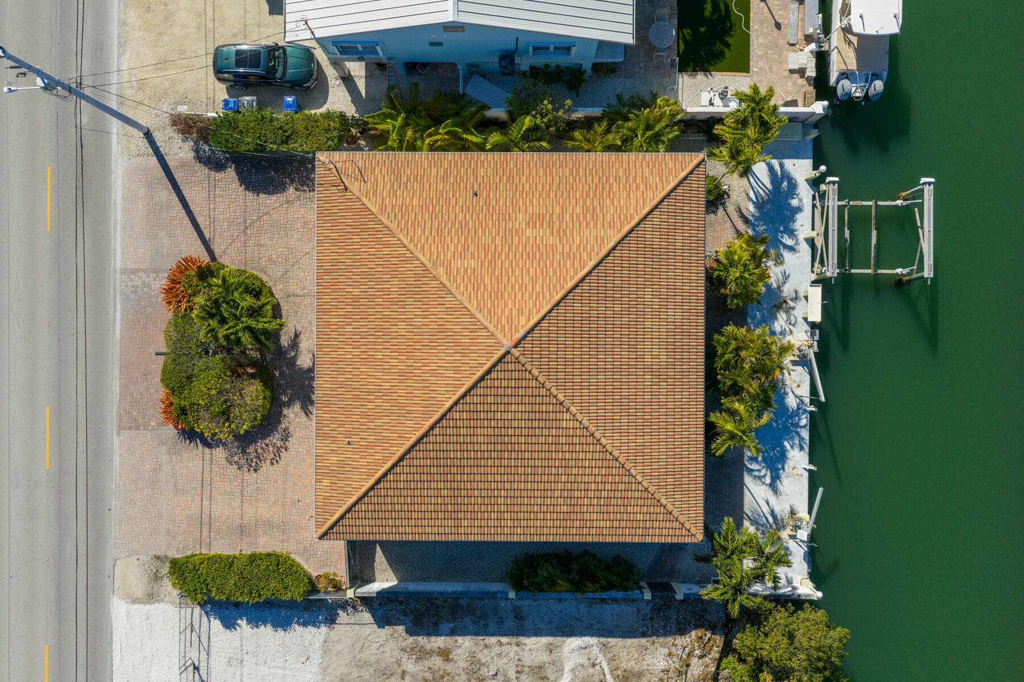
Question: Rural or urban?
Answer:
urban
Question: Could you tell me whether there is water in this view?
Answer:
Yes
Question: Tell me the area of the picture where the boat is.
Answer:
top right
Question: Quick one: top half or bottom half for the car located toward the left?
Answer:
top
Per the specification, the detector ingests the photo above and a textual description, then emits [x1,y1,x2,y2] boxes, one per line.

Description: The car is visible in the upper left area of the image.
[215,39,318,90]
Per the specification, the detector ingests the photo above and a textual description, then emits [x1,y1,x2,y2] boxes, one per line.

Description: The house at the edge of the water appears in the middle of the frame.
[314,150,707,543]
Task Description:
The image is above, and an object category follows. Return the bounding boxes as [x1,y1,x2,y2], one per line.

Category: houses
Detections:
[283,0,637,97]
[314,150,707,543]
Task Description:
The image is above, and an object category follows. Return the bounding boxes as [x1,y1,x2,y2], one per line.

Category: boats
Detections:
[825,0,903,104]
